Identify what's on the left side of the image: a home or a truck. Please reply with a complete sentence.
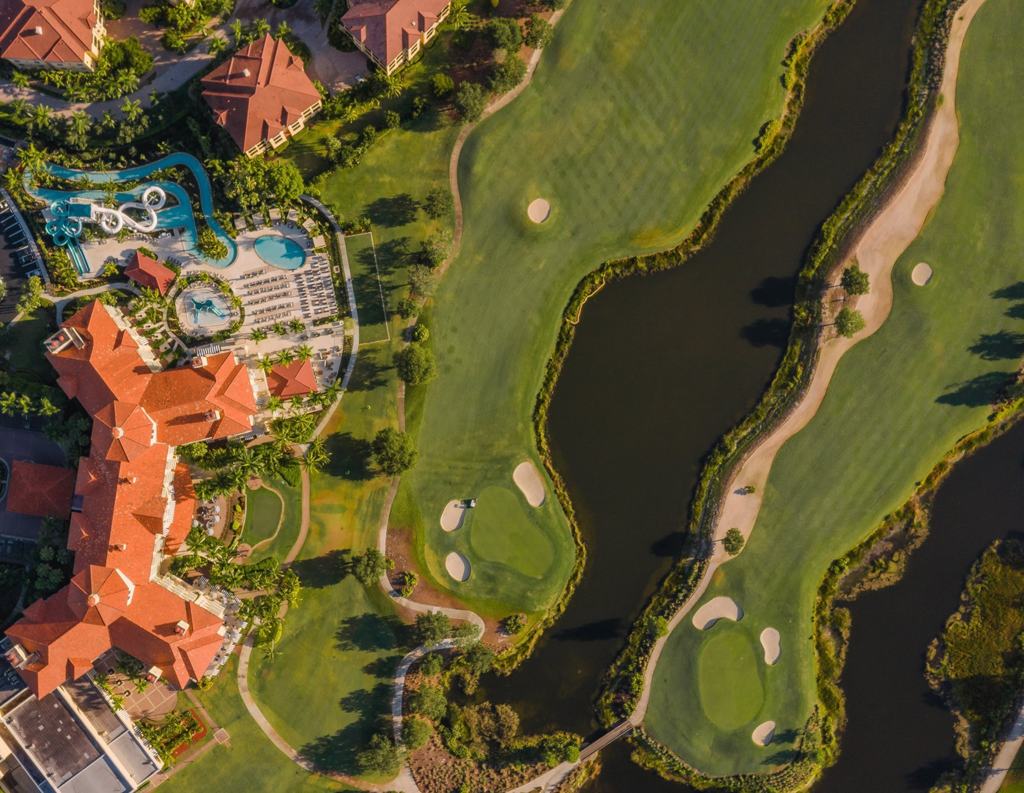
Visible on the left side of the image is a home.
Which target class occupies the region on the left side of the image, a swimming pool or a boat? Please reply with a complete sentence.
It is a swimming pool that can be seen on the left side of the image.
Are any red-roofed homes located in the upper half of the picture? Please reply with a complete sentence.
Yes, in the upper half of the picture there is a red-roofed home.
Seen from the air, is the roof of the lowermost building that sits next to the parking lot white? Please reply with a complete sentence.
No, the roof of the lowermost building that sits next to the parking lot is actually orange.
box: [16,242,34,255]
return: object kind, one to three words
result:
vehicle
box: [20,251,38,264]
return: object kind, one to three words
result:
vehicle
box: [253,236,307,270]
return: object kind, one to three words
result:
swimming pool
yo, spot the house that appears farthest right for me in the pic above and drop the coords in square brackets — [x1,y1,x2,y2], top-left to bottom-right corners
[340,0,451,77]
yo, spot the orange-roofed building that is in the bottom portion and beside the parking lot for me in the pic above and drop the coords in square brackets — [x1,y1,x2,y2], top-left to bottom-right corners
[1,298,265,701]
